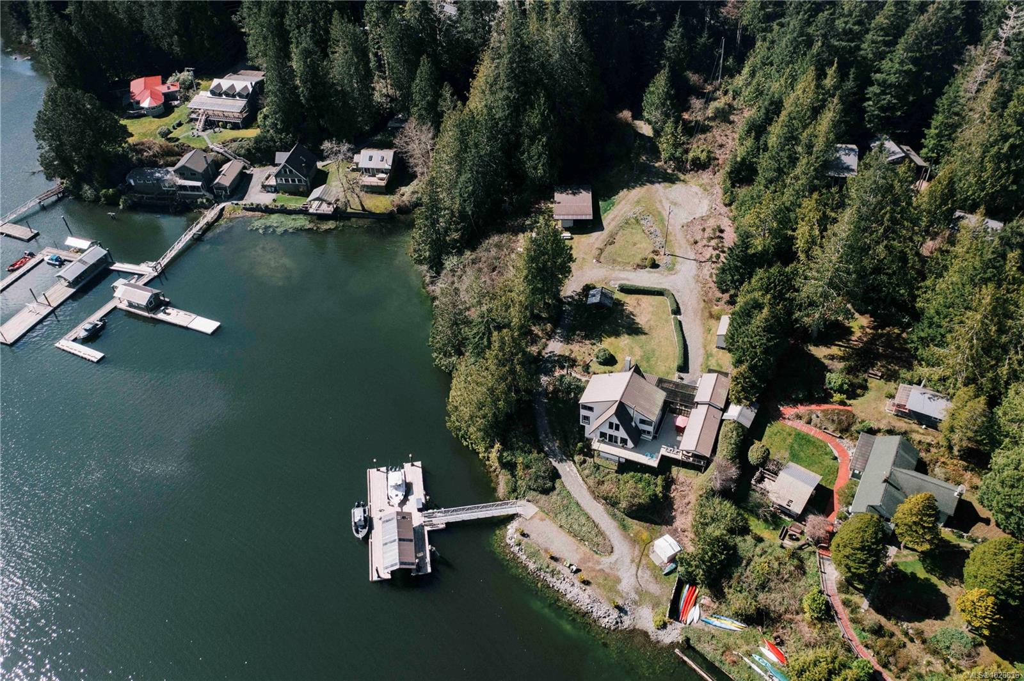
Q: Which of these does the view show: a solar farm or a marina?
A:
marina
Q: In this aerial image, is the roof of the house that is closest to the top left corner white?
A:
No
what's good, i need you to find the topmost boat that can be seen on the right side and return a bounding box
[660,560,679,576]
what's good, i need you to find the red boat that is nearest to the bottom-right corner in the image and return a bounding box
[763,639,786,664]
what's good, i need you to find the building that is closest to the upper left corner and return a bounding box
[128,76,182,115]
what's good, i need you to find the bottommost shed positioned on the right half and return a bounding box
[649,534,682,566]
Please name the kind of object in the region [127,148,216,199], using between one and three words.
house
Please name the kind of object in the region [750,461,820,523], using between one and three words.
building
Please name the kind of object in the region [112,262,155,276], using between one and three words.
pier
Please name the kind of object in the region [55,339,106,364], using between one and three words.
pier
